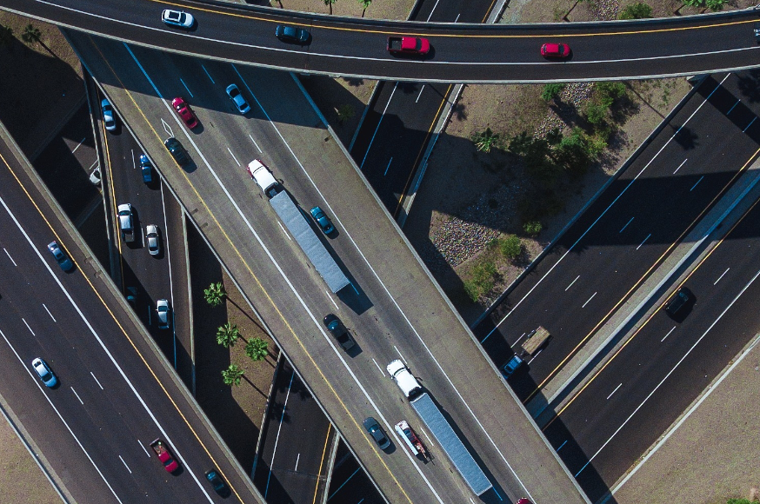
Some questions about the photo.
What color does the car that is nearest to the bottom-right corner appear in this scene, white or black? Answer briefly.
black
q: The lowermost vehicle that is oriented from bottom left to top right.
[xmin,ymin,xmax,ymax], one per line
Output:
[501,355,528,383]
